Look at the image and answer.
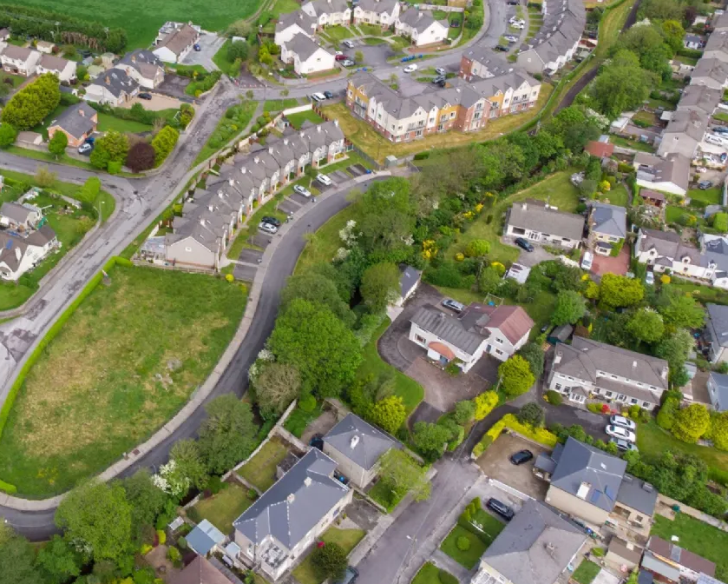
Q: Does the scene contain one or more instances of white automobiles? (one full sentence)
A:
Yes, a white automobile appears in the view.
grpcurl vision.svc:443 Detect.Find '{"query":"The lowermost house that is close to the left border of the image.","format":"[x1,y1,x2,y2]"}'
[0,221,58,287]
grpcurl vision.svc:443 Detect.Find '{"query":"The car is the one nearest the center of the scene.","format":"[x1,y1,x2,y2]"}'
[443,296,463,312]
